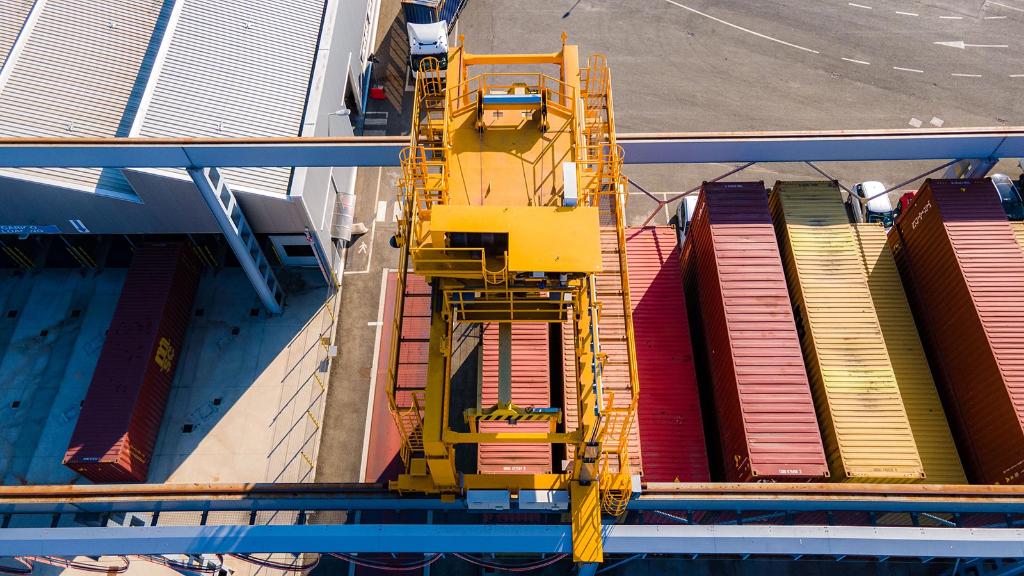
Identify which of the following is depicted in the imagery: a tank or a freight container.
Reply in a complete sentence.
The one in the frame is a freight container.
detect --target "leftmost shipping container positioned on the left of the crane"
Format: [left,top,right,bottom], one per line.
[64,241,206,479]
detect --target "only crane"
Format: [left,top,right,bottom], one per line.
[380,31,643,562]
